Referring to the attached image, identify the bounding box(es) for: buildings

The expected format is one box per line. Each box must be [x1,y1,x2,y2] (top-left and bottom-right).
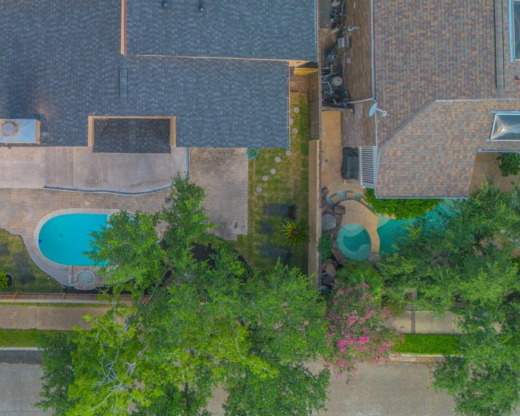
[0,0,319,154]
[350,0,520,204]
